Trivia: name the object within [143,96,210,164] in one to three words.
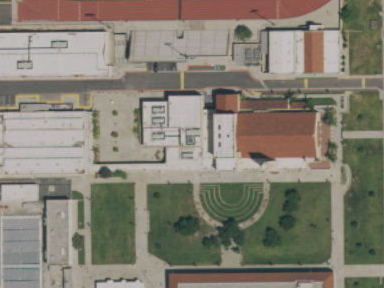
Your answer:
building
